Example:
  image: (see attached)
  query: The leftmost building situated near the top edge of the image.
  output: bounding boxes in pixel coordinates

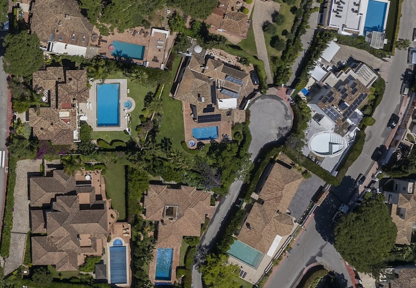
[30,0,99,58]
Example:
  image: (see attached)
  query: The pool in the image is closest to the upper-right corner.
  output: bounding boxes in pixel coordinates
[363,0,389,36]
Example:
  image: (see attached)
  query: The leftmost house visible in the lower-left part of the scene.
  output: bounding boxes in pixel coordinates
[29,170,108,272]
